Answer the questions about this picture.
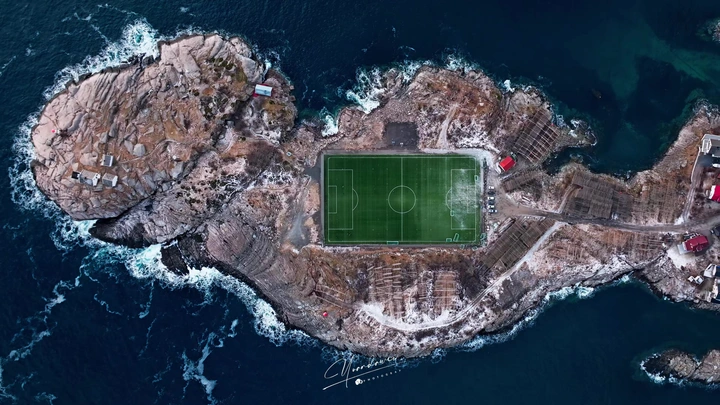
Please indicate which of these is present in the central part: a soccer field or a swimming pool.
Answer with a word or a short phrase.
soccer field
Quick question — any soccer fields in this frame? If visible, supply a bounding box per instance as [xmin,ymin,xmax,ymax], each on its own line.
[323,153,482,245]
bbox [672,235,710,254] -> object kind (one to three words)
house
